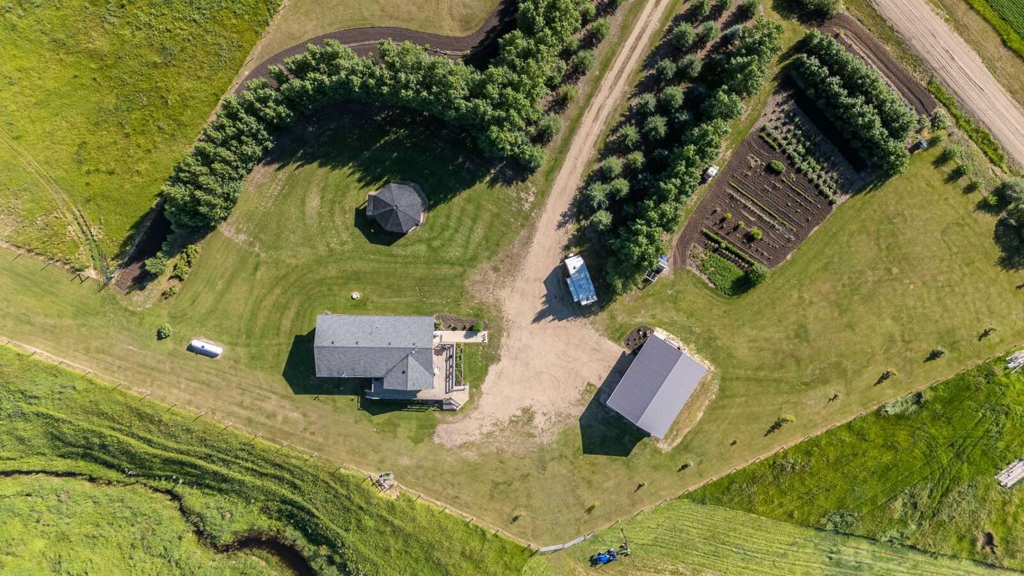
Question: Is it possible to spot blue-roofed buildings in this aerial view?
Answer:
No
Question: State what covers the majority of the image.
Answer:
grass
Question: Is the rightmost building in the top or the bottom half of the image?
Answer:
bottom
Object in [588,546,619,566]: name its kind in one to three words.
work vehicle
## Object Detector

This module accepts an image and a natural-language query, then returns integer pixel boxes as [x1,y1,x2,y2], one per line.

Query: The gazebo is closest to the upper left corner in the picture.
[362,183,421,235]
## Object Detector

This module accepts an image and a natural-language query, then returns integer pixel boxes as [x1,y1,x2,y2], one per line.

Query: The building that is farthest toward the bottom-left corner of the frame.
[312,313,435,393]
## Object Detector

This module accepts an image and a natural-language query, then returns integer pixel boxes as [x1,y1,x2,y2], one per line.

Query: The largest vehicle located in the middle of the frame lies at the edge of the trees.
[564,252,597,305]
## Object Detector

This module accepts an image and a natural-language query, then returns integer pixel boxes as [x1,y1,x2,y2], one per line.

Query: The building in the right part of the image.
[606,333,707,439]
